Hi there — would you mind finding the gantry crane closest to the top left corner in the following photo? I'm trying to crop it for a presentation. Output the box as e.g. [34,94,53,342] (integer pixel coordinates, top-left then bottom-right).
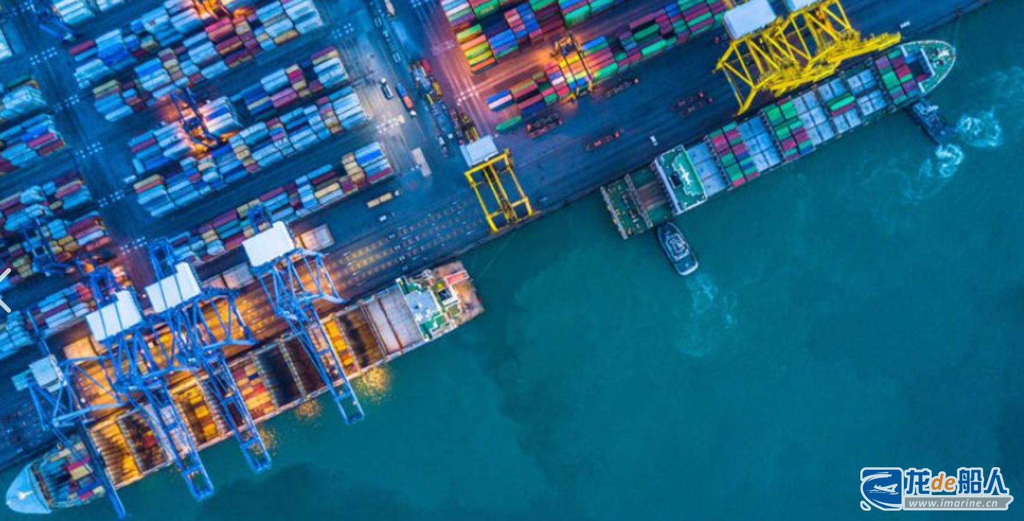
[26,0,93,49]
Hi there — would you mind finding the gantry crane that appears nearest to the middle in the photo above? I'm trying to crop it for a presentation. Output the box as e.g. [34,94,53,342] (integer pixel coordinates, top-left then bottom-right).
[451,99,541,232]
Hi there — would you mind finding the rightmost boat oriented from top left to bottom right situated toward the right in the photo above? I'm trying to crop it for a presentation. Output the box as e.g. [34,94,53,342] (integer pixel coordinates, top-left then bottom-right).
[907,105,951,152]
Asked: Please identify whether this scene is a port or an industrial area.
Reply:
port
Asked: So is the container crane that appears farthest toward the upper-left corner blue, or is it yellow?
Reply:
blue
